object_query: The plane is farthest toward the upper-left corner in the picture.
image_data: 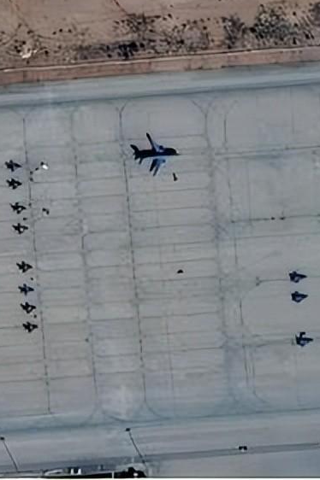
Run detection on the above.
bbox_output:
[5,161,22,174]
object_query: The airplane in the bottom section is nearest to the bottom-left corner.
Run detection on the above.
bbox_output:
[22,321,39,334]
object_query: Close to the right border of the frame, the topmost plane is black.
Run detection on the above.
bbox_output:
[288,271,307,285]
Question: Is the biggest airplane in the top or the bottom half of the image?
top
